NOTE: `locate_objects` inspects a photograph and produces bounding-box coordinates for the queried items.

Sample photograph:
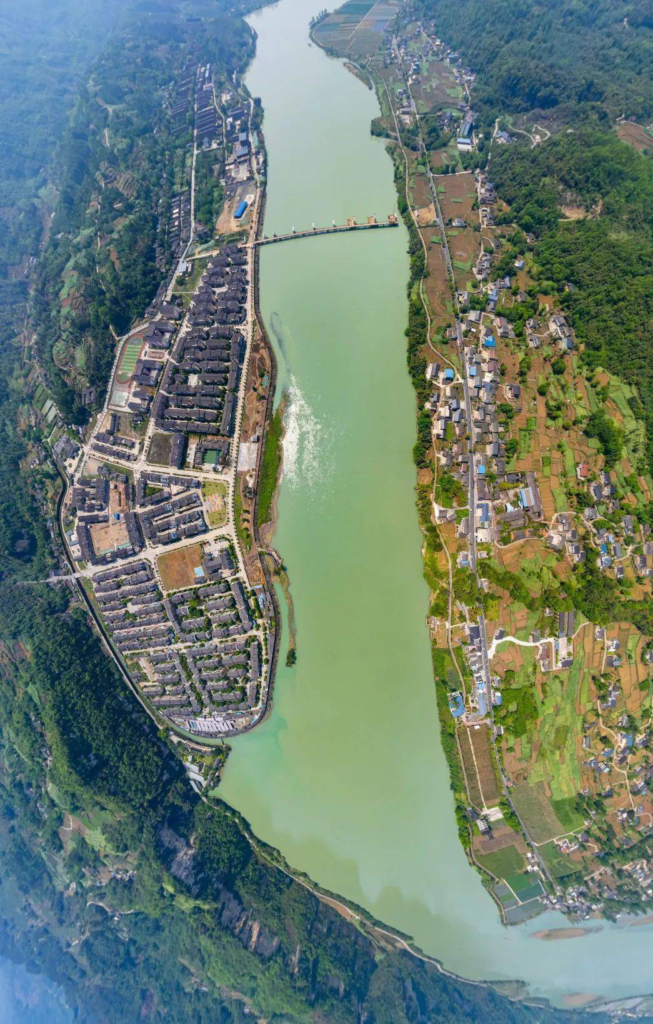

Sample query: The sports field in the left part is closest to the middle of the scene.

[156,543,205,589]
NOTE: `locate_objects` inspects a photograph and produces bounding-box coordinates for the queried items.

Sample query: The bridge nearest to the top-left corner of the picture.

[251,219,400,249]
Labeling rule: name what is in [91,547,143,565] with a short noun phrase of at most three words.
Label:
building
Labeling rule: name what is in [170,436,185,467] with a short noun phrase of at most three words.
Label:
building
